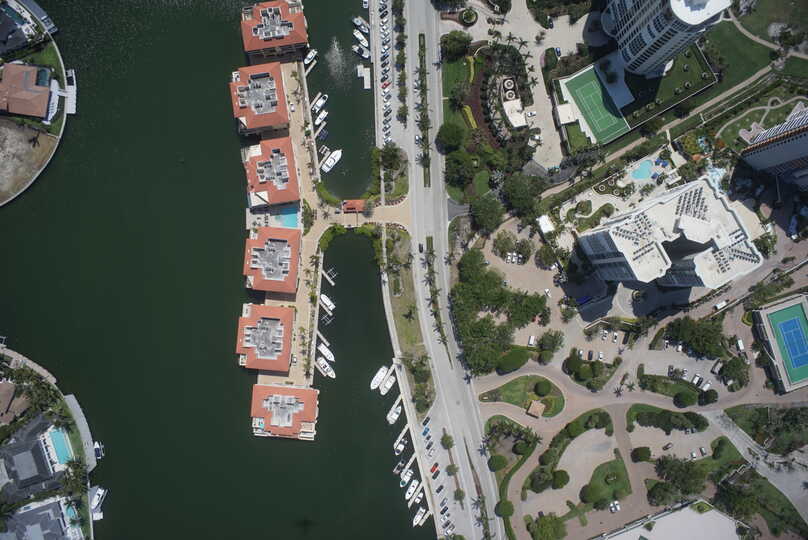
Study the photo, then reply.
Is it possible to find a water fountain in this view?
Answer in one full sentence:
Yes, there is a water fountain in the image.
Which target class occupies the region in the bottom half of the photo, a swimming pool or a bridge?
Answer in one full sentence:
The one visible in the bottom half of the photo is a swimming pool.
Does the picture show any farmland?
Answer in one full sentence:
No, the picture contains no farmland.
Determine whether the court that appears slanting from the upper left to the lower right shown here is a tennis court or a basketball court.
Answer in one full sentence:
It looks like the court that appears slanting from the upper left to the lower right is a tennis court.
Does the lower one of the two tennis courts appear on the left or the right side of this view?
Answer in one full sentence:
It is on the right.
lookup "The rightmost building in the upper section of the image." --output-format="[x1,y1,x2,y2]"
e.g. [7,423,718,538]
[741,98,808,179]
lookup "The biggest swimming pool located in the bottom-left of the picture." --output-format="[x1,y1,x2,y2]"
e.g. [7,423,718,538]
[48,429,72,466]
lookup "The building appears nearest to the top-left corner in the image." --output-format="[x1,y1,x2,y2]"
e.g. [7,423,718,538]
[0,3,32,58]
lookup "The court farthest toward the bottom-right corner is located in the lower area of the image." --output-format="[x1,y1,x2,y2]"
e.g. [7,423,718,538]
[768,304,808,383]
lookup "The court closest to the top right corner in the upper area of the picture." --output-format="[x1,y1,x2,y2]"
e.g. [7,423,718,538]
[566,67,630,143]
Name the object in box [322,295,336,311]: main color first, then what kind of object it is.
white boat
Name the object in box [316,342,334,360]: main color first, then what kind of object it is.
white boat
